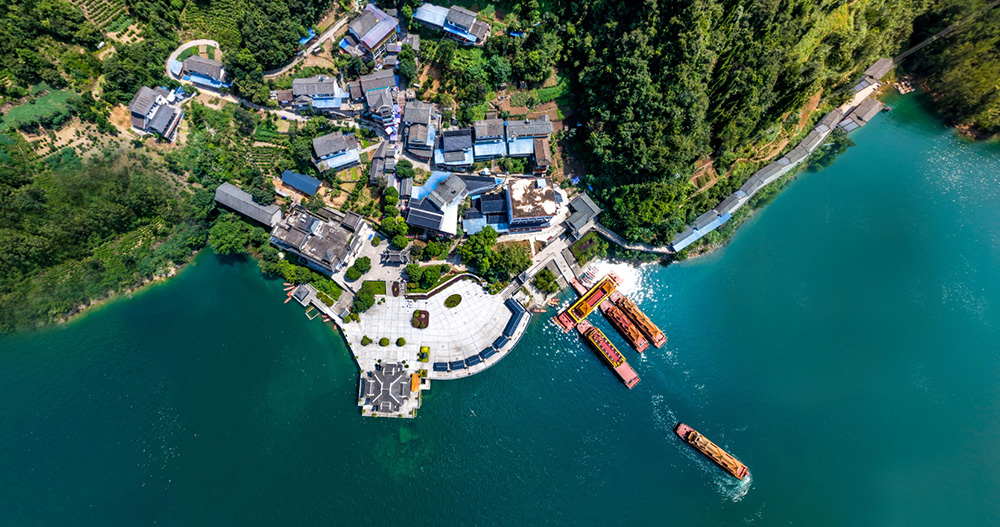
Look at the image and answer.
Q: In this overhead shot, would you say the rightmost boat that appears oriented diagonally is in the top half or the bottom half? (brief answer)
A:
bottom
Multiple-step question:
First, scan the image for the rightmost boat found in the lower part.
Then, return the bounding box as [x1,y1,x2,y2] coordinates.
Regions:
[674,426,749,480]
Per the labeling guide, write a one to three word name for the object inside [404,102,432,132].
house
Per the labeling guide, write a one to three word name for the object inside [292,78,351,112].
house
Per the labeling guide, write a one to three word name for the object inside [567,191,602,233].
building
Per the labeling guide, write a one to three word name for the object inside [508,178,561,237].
building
